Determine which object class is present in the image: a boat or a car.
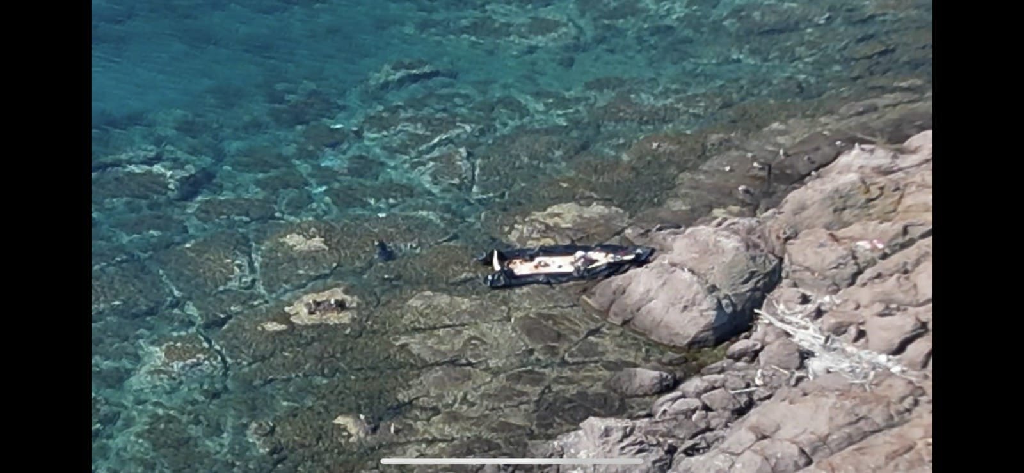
boat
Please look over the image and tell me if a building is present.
No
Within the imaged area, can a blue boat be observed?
No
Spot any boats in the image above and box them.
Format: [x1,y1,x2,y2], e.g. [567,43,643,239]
[473,240,660,295]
